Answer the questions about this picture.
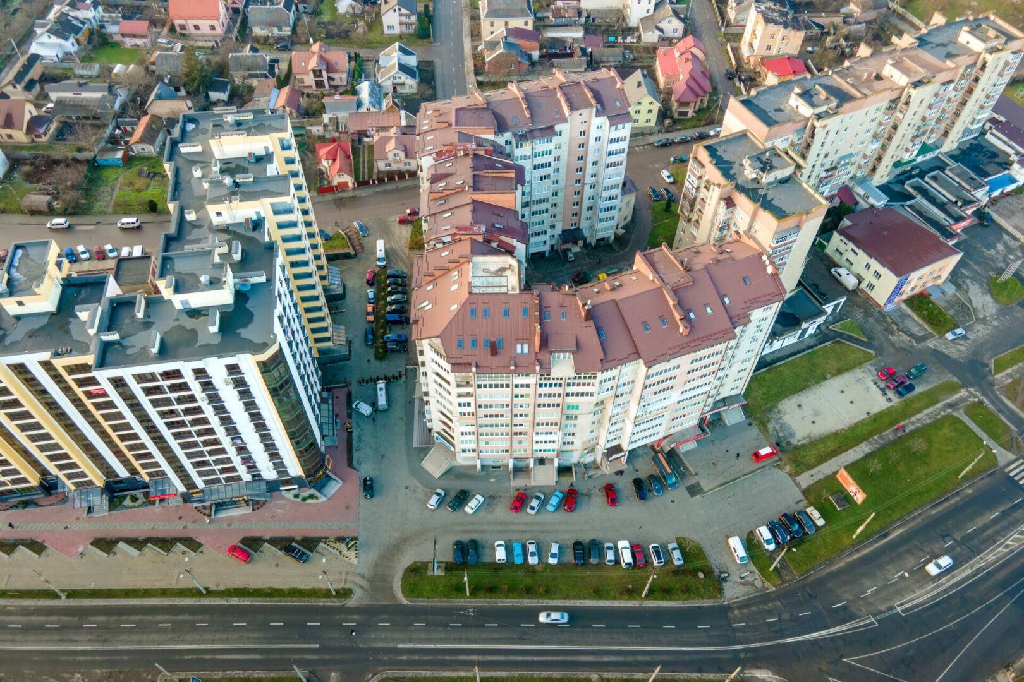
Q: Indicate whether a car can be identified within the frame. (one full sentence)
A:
Yes, looking at the shot, I can spot a car.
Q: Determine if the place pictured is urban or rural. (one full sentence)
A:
The area shown here is urban.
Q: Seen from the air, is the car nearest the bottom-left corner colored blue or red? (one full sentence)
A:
In this view, the car nearest the bottom-left corner is red.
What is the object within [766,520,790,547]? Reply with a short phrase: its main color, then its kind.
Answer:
blue car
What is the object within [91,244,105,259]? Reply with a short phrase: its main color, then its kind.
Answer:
red car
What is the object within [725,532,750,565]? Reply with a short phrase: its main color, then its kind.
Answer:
white vehicle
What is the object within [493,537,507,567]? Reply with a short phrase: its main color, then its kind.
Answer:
white vehicle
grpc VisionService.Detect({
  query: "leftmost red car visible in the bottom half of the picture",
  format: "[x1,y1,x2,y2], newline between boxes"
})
[225,543,254,566]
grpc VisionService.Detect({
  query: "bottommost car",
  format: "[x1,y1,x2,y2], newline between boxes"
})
[539,611,569,625]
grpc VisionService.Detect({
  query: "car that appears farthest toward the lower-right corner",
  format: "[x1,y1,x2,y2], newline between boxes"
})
[923,553,956,577]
